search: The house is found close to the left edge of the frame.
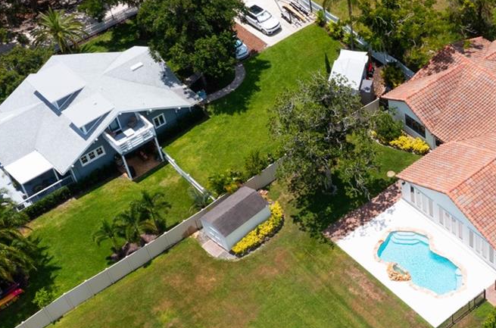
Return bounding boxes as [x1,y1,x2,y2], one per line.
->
[0,46,193,213]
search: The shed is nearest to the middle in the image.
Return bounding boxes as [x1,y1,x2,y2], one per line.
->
[195,182,272,256]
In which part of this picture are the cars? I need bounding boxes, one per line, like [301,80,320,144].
[223,33,249,64]
[243,0,283,32]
